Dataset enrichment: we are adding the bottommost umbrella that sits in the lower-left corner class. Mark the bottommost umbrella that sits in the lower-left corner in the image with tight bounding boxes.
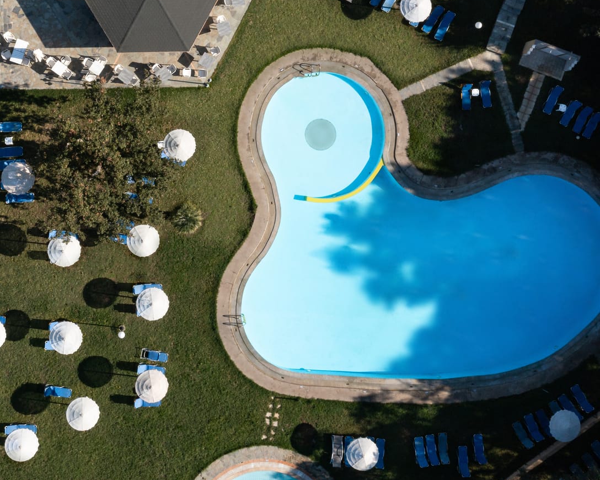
[5,424,40,459]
